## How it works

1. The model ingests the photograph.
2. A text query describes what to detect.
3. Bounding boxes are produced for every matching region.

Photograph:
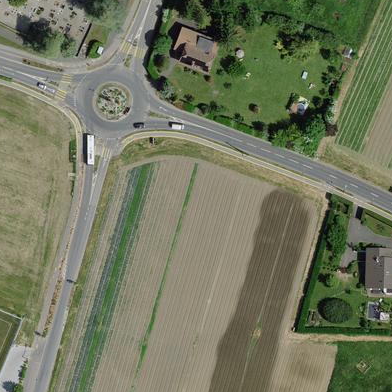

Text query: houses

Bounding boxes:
[174,26,220,75]
[367,248,392,298]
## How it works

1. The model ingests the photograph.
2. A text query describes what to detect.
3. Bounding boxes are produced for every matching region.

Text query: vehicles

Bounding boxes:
[88,135,96,166]
[134,124,145,128]
[37,83,48,90]
[171,124,184,130]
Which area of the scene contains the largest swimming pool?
bottom right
